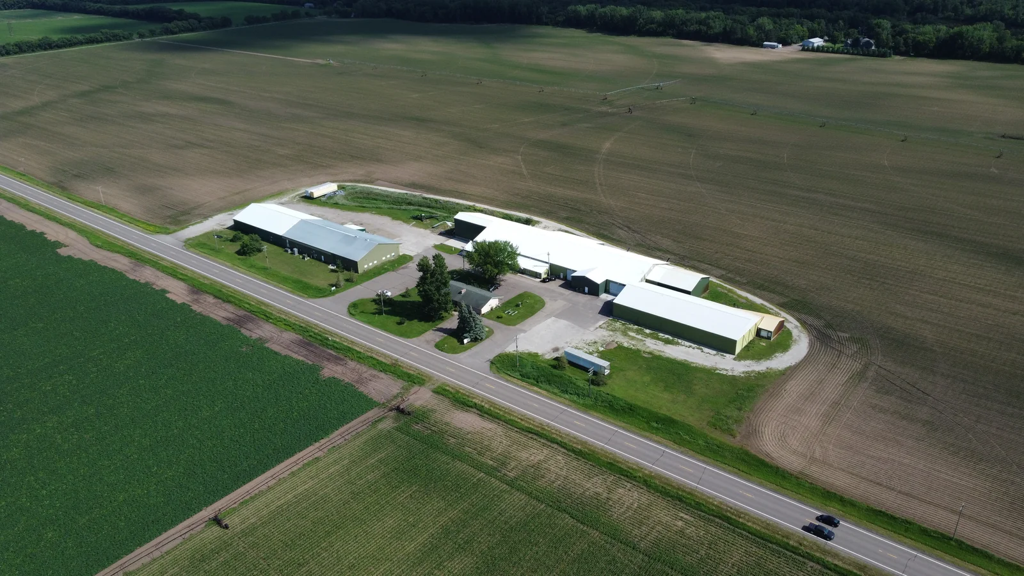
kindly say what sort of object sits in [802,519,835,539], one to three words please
vehicle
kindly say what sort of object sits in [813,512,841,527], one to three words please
car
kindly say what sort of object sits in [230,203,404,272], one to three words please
barn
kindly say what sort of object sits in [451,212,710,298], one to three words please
shed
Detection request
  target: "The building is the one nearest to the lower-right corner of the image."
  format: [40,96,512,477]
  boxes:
[612,281,787,356]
